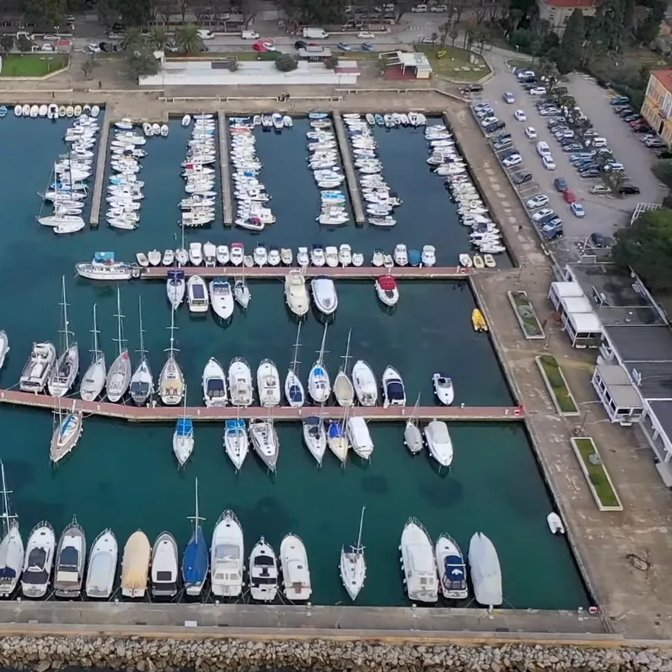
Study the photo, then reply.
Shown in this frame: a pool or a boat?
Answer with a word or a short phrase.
boat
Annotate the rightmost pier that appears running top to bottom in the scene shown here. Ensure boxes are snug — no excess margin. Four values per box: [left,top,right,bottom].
[334,113,363,224]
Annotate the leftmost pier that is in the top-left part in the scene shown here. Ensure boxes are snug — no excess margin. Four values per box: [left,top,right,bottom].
[90,103,110,227]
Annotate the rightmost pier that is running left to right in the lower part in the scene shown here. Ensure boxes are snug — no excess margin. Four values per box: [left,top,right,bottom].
[123,407,524,421]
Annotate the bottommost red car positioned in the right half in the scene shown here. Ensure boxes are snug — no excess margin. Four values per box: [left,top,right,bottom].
[563,188,577,202]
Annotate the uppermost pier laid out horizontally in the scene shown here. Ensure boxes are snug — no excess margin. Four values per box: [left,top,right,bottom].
[139,267,469,280]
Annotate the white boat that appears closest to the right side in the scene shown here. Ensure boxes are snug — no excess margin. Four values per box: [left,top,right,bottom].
[550,514,564,535]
